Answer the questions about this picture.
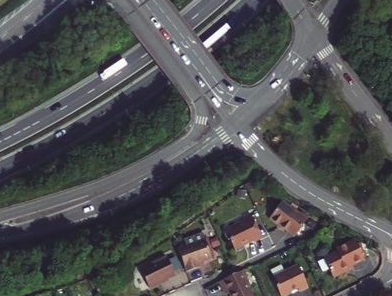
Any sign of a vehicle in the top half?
Yes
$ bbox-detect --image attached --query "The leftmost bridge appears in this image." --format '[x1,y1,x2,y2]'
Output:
[114,0,235,112]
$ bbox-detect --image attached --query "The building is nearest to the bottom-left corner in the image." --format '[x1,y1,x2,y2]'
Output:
[140,250,178,286]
